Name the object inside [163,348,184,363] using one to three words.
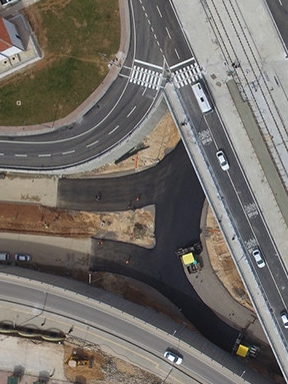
car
